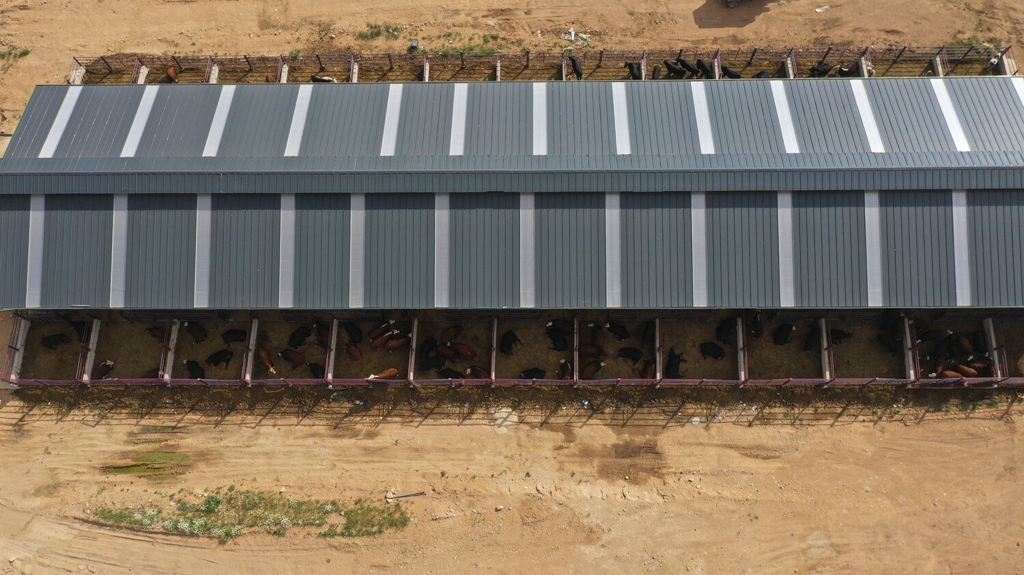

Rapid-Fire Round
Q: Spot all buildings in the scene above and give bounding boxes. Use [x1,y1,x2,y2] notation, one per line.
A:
[0,74,1024,320]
